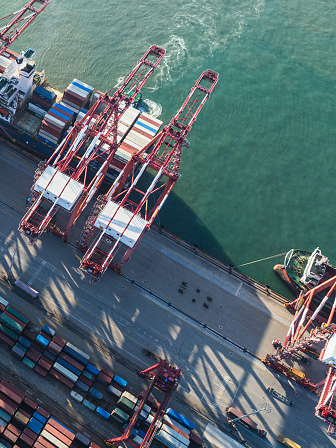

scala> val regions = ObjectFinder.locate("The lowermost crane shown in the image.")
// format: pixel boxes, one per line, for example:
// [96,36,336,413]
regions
[96,359,179,448]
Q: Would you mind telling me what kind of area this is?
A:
port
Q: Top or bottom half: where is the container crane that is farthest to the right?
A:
bottom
